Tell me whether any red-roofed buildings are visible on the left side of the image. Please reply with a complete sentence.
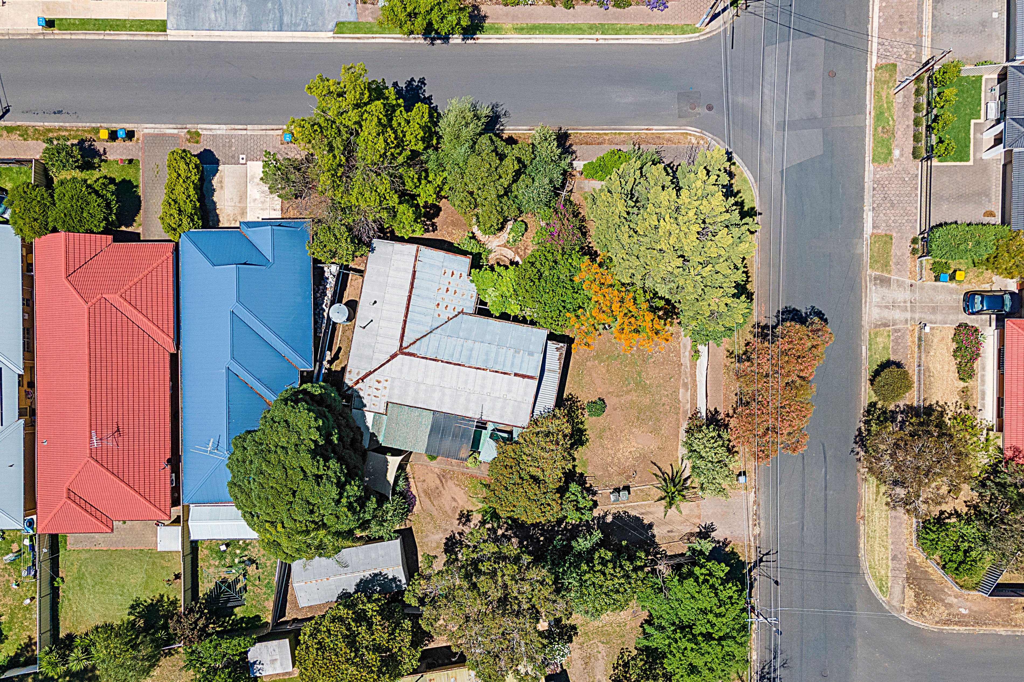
Yes, a red-roofed building can be seen on the left side of the image.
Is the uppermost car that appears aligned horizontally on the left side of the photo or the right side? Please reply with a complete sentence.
The uppermost car that appears aligned horizontally is on the right side of the image.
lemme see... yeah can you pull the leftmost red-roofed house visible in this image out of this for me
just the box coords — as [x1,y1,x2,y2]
[33,230,181,535]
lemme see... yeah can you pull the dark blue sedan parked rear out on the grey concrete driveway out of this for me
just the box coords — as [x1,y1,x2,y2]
[957,288,1022,318]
